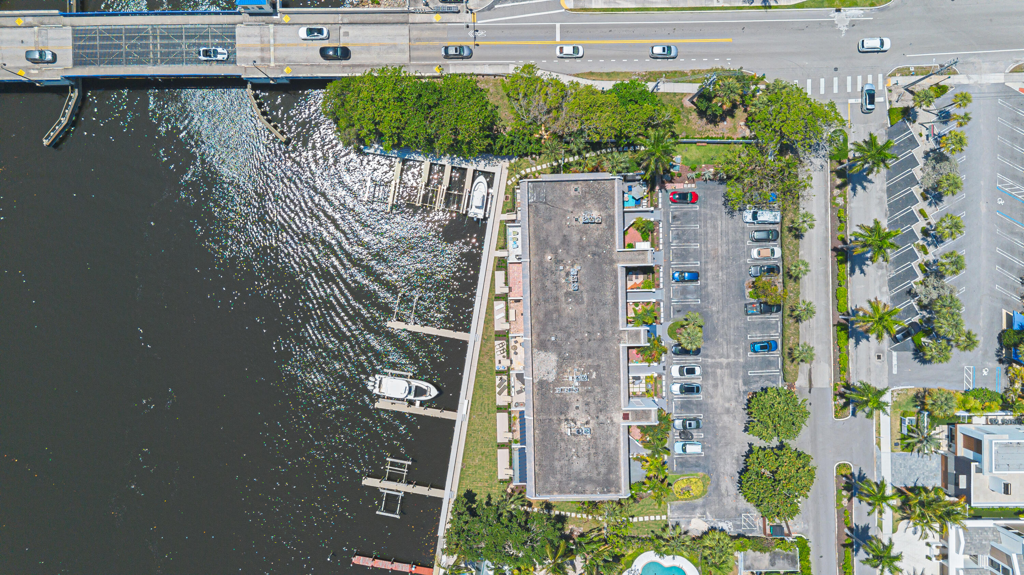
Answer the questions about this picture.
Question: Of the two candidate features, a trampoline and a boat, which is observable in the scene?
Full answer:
This aerial view contains a boat.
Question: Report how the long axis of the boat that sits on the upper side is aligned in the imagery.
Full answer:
The boat that sits on the upper side is laid out from top to bottom.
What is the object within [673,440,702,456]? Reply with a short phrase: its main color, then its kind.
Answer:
white car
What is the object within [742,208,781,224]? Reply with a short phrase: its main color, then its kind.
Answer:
white vehicle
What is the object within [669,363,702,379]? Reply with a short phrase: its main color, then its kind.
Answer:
white car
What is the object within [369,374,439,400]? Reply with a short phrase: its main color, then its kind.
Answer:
white boat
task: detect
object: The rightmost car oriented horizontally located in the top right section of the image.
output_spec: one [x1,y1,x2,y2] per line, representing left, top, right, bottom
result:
[857,35,890,51]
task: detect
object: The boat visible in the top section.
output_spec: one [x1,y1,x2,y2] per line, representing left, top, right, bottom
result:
[468,176,488,224]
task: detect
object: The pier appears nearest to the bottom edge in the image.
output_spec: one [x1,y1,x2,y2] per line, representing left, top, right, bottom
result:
[350,551,434,575]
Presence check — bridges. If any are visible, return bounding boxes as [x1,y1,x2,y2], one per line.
[0,8,472,85]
